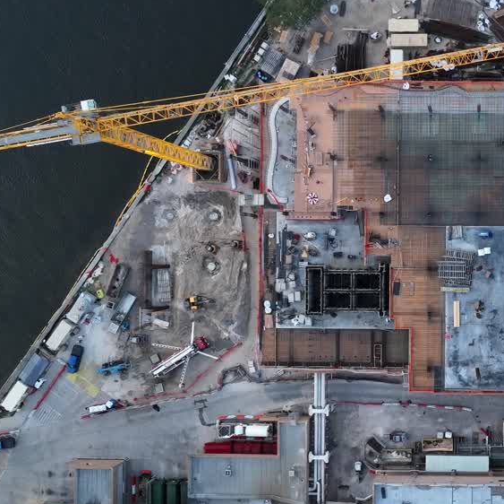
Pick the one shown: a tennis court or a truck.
truck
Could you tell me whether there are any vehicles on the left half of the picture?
Yes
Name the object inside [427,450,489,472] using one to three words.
trailer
